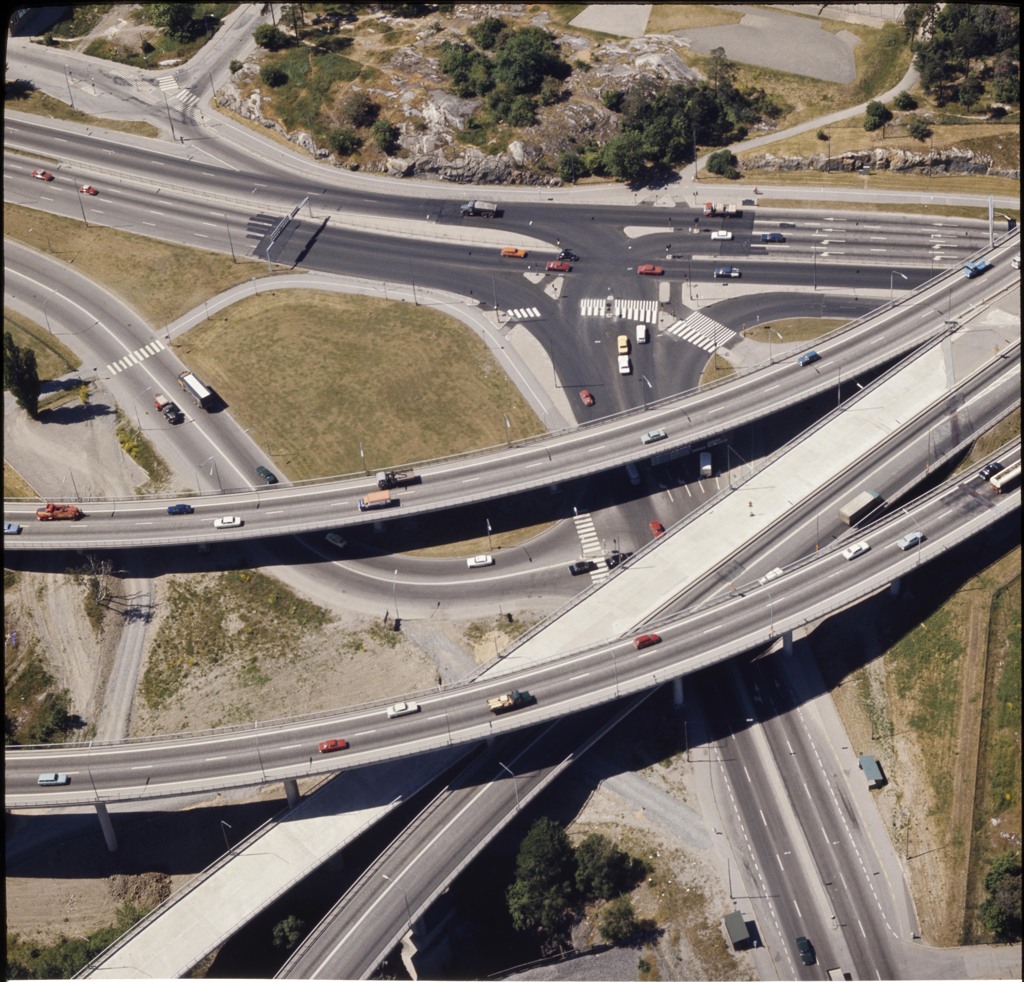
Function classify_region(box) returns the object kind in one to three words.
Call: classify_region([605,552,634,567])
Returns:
car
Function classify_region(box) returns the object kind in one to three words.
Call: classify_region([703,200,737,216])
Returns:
vehicle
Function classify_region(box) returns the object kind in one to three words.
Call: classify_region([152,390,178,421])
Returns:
truck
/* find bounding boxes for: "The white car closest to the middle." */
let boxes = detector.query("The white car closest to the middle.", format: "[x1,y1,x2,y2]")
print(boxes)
[467,555,493,568]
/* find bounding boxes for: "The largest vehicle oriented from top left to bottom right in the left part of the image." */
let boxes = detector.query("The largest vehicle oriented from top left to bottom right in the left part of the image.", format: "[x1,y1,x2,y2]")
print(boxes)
[176,367,214,403]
